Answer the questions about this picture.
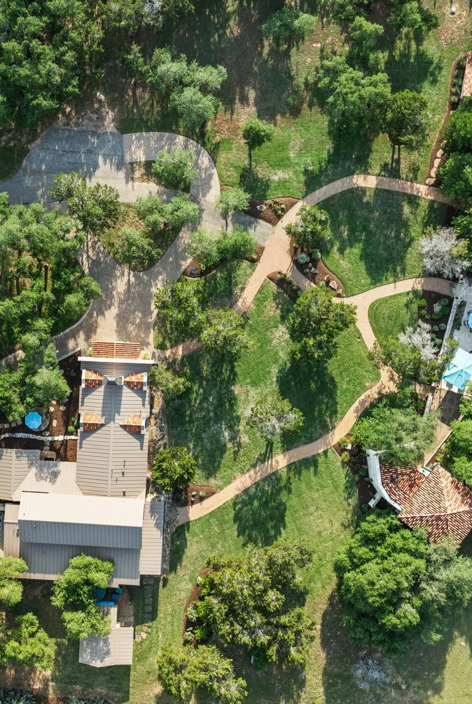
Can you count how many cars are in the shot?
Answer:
none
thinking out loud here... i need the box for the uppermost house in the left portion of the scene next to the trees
[0,341,165,587]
